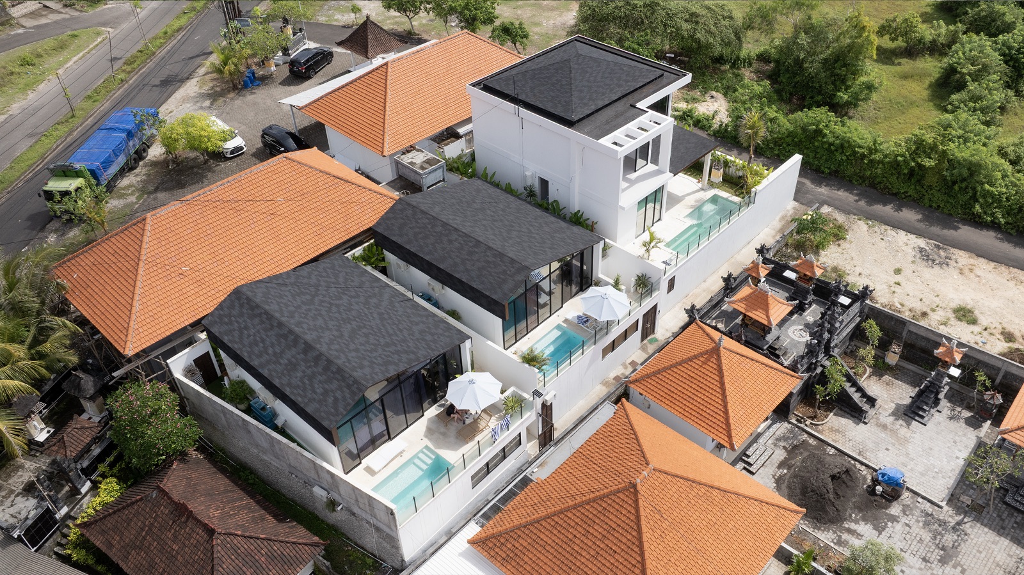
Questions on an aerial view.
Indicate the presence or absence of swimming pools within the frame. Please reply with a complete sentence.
Yes, I can see a swimming pool in this picture.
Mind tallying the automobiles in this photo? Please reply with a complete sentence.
I count 3 automobiles.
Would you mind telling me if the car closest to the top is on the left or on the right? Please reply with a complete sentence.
The car closest to the top appears in the left half of the scene.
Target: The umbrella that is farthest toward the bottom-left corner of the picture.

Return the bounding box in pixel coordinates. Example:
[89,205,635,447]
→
[441,371,505,417]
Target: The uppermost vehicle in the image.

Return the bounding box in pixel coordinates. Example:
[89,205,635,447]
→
[287,46,333,77]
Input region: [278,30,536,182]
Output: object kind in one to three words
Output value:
house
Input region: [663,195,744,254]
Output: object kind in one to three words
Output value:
swimming pool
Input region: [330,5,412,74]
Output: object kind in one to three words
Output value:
building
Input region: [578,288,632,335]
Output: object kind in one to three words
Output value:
umbrella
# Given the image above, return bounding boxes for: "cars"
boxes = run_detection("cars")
[260,121,312,161]
[287,46,333,77]
[203,114,246,159]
